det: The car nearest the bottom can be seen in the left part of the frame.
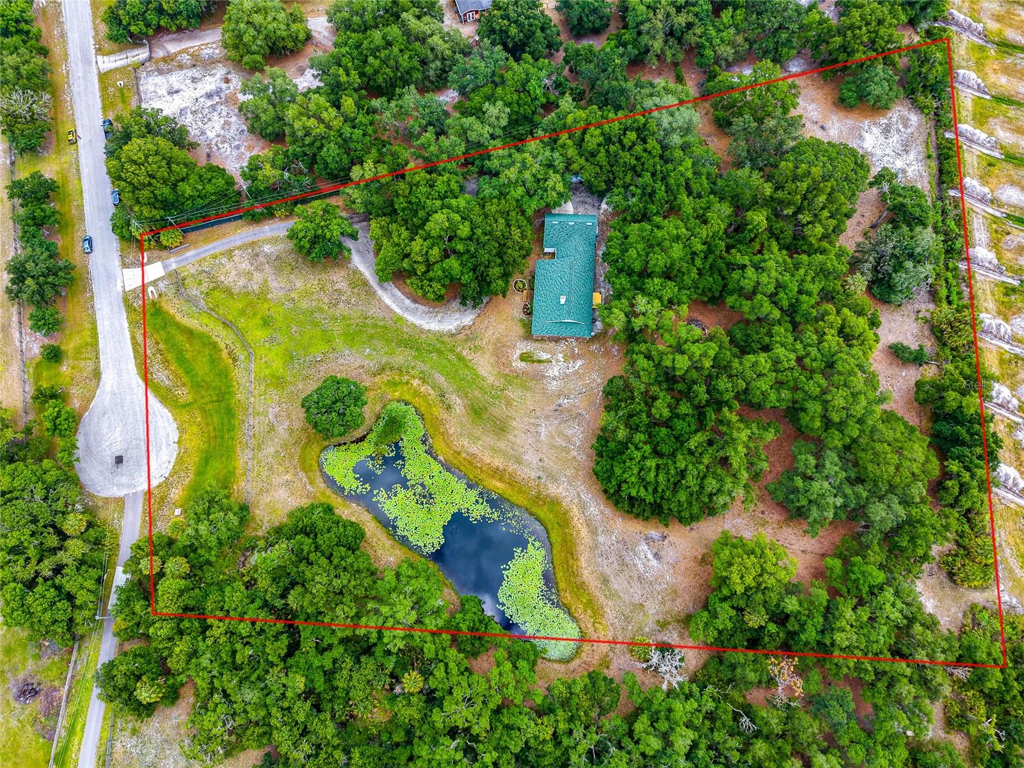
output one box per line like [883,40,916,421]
[81,232,94,253]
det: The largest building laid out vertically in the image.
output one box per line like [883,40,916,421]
[532,213,596,342]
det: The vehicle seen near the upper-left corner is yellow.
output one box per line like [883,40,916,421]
[64,125,78,144]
